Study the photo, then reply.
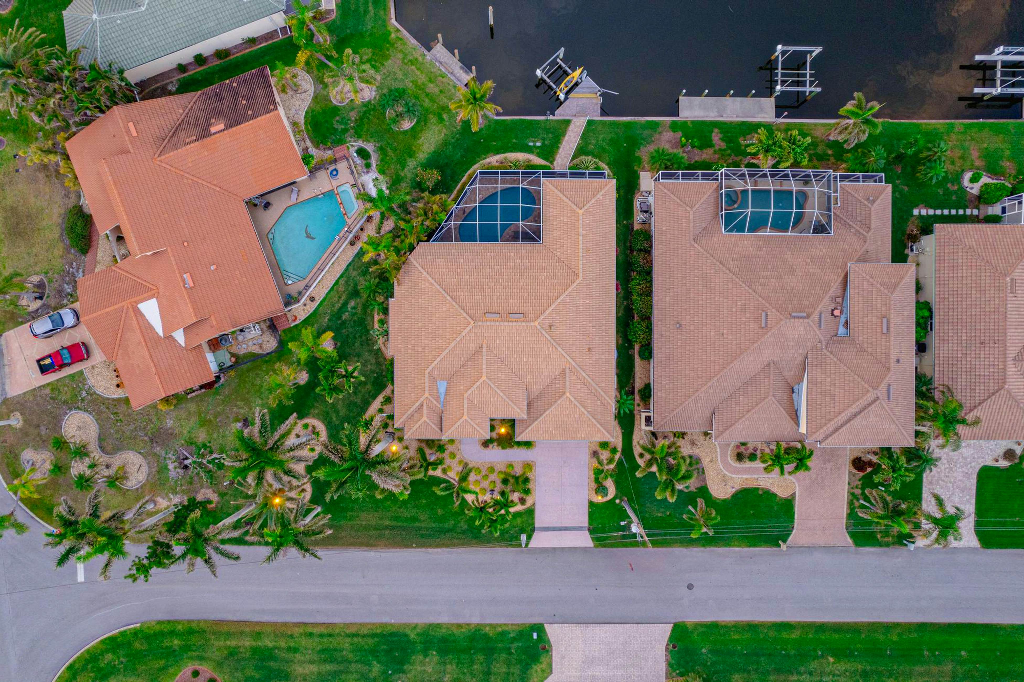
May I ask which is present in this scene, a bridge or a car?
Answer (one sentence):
Visible in the photo is a car.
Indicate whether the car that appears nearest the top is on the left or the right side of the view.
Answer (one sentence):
You can find the car that appears nearest the top on the left side of the picture.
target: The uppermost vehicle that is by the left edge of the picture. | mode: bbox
[23,307,78,338]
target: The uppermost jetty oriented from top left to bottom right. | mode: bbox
[430,43,474,85]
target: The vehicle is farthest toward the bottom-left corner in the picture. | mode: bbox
[28,343,88,378]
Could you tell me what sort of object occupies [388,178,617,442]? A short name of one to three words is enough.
house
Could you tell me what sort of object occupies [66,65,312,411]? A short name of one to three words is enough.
house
